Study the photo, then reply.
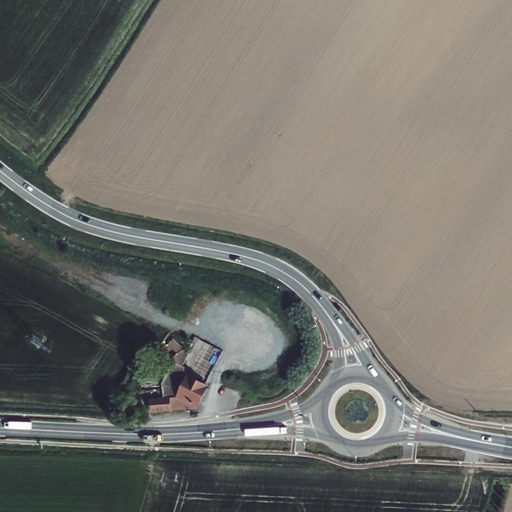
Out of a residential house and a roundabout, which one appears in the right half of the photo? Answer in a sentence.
Looking in the right half of the photo, you will find a roundabout.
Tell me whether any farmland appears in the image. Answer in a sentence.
Yes, farmland can be seen from above here.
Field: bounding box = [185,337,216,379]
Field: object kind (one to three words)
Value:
barn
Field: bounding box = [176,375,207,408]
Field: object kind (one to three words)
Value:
house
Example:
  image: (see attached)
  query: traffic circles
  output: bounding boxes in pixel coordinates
[290,337,423,457]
